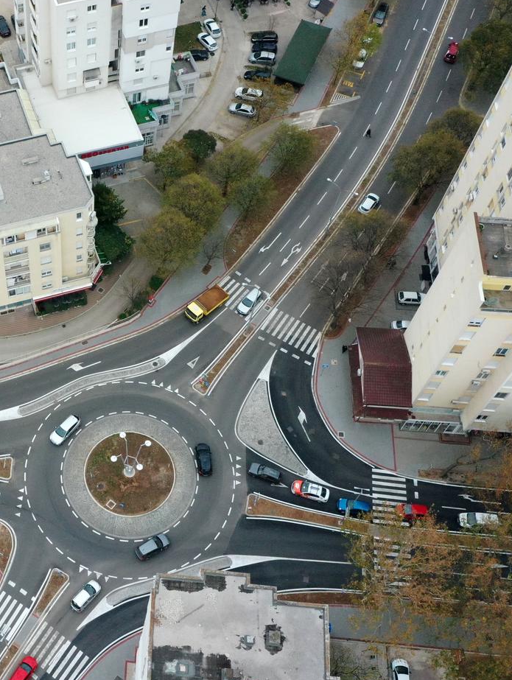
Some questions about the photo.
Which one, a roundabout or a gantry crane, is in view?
roundabout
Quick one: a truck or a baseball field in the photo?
truck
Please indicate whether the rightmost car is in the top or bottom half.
bottom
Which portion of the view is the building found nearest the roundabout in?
bottom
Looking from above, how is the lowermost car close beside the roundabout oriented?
diagonally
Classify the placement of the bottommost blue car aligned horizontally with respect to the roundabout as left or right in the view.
to the right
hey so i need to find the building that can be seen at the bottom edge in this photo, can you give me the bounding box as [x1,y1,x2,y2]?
[136,569,341,680]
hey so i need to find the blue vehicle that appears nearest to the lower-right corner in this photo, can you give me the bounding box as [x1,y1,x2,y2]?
[336,497,373,519]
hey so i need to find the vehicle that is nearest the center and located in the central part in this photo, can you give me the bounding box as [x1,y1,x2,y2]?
[236,286,265,316]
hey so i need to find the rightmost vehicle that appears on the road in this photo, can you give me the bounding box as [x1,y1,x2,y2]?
[456,509,503,530]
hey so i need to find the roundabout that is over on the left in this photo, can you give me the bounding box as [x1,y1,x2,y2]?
[24,380,236,579]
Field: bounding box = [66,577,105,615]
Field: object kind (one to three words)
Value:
car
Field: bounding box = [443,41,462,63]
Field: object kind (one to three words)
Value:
car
